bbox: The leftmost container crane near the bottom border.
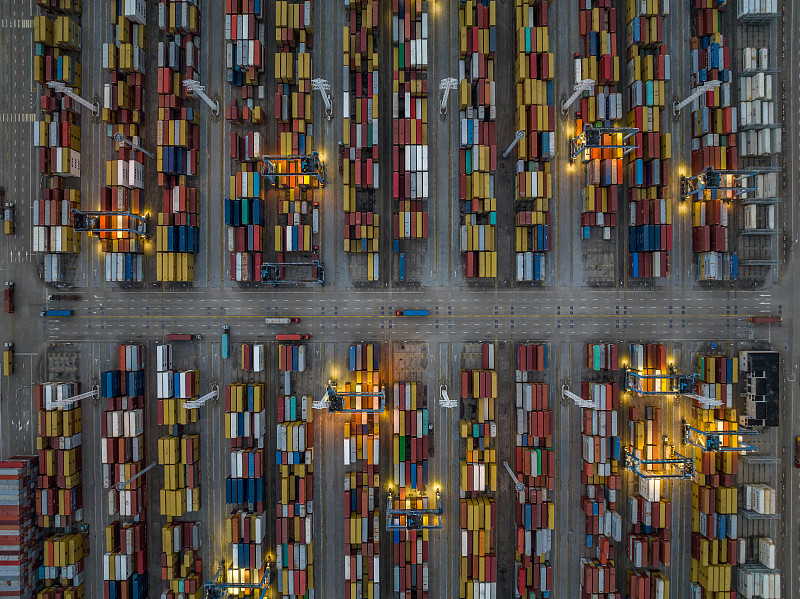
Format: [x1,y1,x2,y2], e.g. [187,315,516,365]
[203,558,270,599]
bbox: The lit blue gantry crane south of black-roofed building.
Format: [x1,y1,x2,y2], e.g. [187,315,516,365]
[683,413,762,453]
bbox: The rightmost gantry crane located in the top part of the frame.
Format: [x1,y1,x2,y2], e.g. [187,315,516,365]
[683,162,762,205]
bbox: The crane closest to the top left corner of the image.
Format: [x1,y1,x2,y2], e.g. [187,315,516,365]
[66,204,146,245]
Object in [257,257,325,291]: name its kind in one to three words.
container crane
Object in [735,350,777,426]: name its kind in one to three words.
building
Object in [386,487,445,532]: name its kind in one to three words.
container crane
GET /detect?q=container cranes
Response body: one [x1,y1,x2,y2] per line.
[66,204,146,245]
[683,162,762,205]
[571,121,641,166]
[325,376,388,415]
[259,148,325,190]
[624,360,700,399]
[683,413,762,453]
[257,257,325,291]
[203,558,270,599]
[386,487,445,532]
[625,441,700,482]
